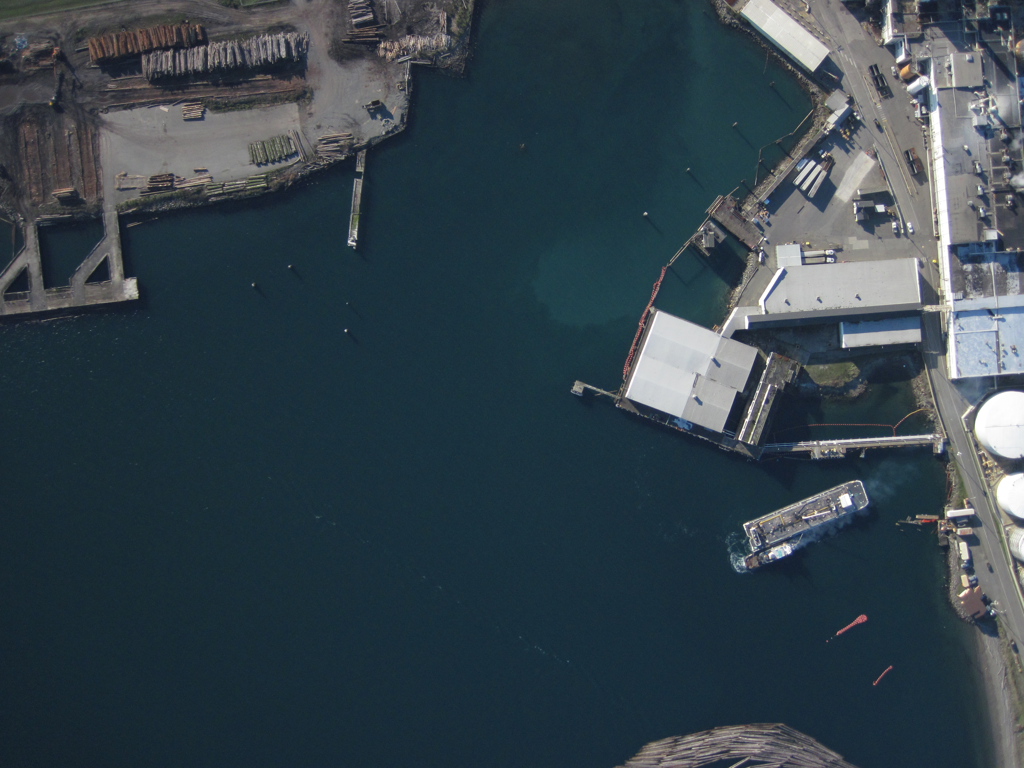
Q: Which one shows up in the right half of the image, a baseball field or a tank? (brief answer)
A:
tank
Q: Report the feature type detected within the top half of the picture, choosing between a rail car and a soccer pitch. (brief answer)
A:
rail car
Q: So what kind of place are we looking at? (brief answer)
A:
port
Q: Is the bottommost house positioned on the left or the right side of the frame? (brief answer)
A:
right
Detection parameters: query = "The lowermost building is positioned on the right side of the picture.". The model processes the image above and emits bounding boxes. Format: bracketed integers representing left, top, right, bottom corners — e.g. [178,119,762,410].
[955,585,986,618]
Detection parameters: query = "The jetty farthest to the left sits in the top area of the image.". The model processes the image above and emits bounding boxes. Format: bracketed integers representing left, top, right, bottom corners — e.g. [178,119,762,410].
[0,212,139,315]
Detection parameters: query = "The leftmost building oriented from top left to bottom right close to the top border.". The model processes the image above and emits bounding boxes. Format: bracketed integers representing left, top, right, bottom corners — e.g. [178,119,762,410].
[737,0,829,75]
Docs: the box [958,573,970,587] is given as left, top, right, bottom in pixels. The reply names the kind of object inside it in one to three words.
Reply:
vehicle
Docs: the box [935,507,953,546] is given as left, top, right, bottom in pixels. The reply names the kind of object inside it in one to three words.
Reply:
pier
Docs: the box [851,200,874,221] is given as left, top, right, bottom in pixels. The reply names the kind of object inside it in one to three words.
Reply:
building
